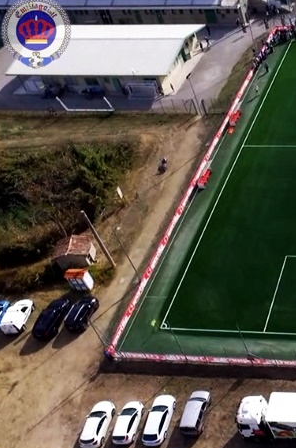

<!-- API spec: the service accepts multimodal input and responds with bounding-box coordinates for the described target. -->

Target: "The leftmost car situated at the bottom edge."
[77,402,116,448]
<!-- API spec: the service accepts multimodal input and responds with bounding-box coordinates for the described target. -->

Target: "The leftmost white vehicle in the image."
[0,301,34,335]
